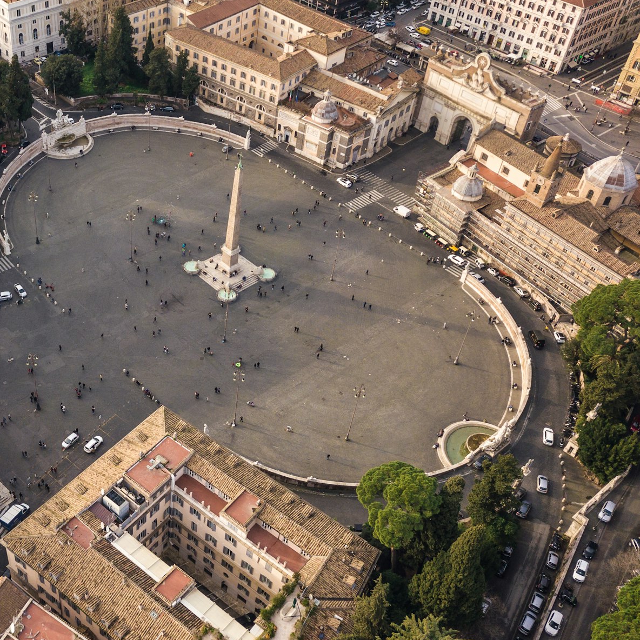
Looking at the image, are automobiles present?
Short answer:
Yes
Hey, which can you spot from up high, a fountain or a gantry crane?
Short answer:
fountain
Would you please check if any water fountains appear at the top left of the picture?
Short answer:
Yes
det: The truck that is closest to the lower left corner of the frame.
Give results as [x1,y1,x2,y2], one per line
[0,498,29,529]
